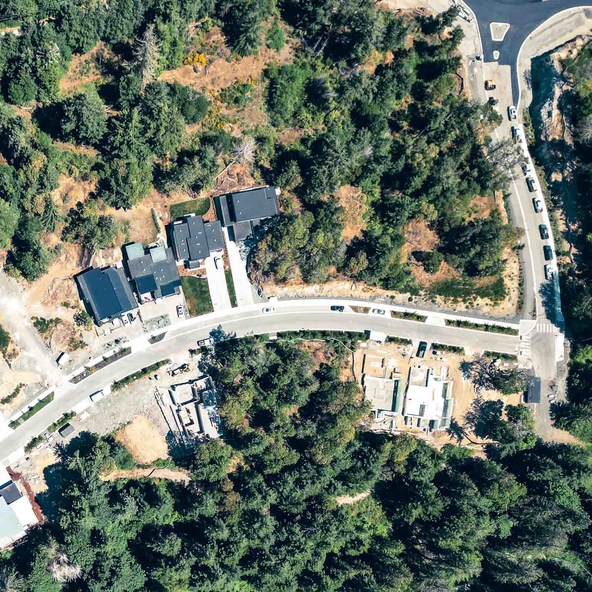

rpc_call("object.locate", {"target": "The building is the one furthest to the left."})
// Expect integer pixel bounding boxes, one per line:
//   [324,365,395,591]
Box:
[0,483,38,549]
